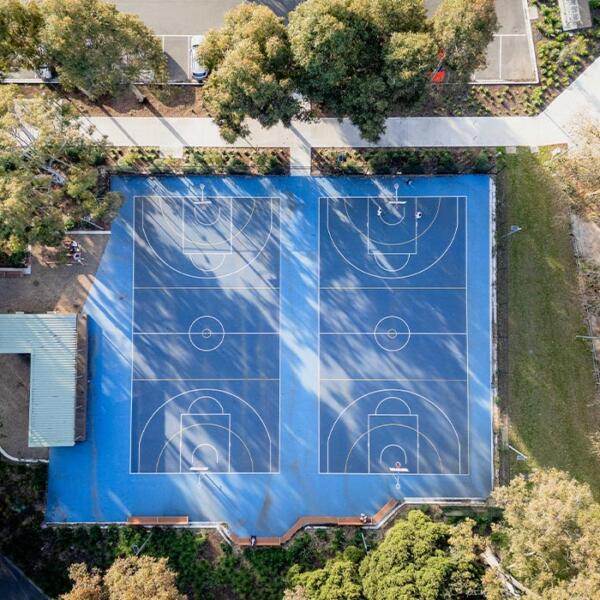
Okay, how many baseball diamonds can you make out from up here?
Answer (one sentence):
No baseball diamonds are visible.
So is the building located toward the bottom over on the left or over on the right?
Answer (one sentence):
The building located toward the bottom appears in the left half of the scene.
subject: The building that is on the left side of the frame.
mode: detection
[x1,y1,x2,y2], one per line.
[0,309,89,447]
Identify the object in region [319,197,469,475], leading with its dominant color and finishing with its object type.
blue basketball court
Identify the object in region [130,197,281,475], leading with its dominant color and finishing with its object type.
blue basketball court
